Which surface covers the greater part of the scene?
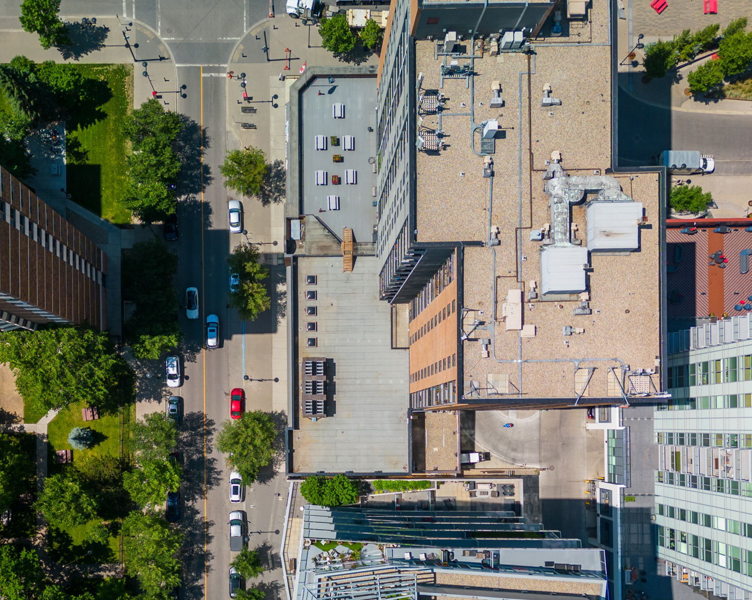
buildings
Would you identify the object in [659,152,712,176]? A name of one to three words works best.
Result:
truck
